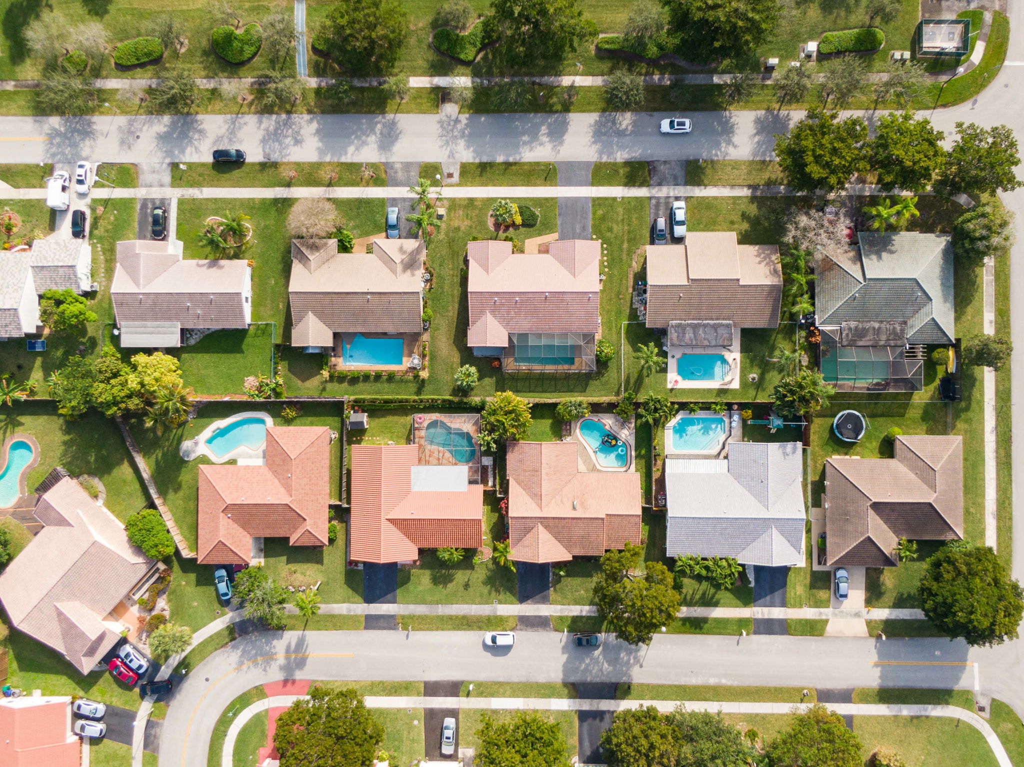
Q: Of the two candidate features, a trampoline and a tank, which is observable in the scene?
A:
trampoline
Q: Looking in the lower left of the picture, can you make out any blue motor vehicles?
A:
Yes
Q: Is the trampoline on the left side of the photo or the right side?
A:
right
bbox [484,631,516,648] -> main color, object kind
white car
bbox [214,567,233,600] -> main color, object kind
blue car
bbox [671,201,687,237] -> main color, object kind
white car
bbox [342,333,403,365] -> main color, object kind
blue swimming pool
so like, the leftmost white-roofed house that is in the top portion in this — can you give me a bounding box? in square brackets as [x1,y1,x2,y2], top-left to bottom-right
[0,239,93,343]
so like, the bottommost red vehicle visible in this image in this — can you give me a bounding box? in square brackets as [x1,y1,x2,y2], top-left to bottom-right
[111,657,137,686]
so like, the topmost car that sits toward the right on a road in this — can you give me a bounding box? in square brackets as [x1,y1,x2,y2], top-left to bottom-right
[660,117,692,133]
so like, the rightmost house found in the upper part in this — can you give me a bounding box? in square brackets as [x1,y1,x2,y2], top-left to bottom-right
[811,232,955,347]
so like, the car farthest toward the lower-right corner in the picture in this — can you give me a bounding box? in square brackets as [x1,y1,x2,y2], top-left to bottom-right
[833,568,850,601]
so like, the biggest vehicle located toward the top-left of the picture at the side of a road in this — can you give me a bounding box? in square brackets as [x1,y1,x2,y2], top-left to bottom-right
[43,171,71,212]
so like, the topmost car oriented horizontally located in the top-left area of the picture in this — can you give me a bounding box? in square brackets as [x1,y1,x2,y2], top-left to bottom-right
[212,147,246,163]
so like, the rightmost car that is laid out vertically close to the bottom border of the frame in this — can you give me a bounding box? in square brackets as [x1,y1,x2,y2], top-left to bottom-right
[440,717,456,754]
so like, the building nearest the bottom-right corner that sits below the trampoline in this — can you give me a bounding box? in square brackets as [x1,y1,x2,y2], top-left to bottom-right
[821,435,963,567]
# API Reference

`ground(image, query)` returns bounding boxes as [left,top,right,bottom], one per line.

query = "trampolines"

[833,410,870,442]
